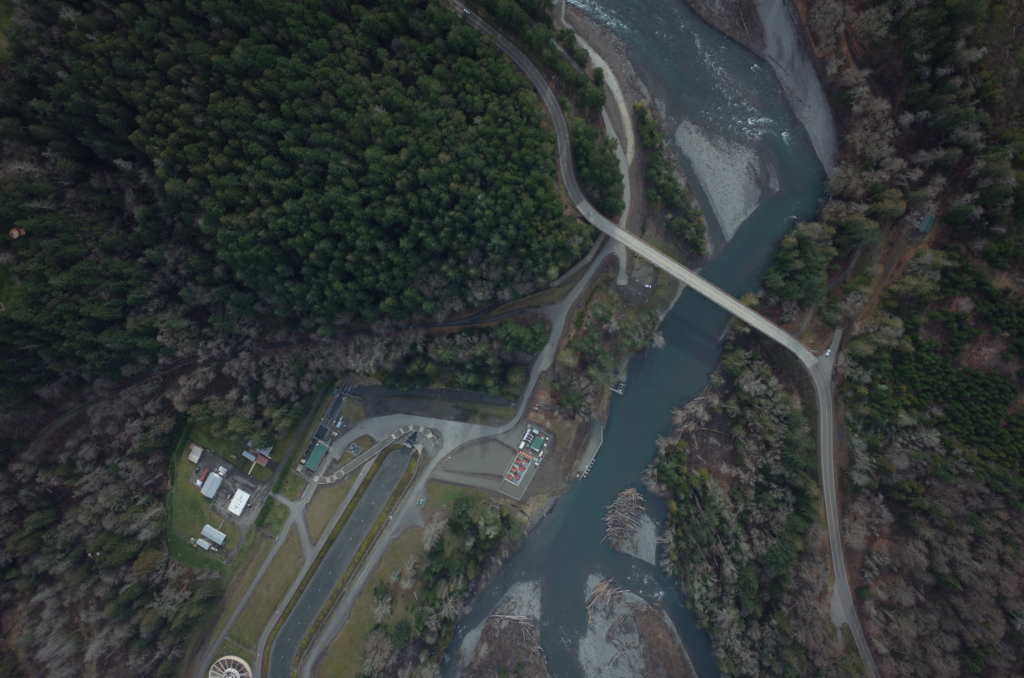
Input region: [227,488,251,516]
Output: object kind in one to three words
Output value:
building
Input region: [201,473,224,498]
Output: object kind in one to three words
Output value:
building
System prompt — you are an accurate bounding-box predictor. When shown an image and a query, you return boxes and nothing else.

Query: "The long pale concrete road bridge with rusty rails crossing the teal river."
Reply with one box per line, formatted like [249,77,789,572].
[575,197,819,371]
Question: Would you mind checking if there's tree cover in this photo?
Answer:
Yes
